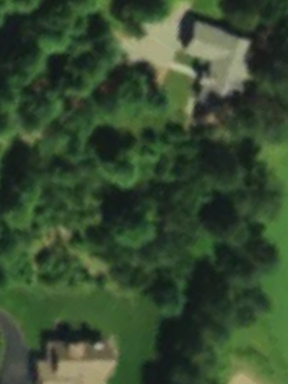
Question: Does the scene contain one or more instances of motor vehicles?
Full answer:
No, I can't see a single motor vehicle in this photo.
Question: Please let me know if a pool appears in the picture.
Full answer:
No, no pool can be seen from above.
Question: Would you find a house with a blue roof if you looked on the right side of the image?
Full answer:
No, the scene shows no house with a blue roof on the right side of the image.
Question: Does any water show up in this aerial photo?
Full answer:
No, there's no water in this view.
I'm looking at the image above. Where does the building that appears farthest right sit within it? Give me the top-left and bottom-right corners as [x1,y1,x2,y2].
[182,18,253,101]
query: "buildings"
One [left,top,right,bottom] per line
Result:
[37,342,116,384]
[182,18,253,101]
